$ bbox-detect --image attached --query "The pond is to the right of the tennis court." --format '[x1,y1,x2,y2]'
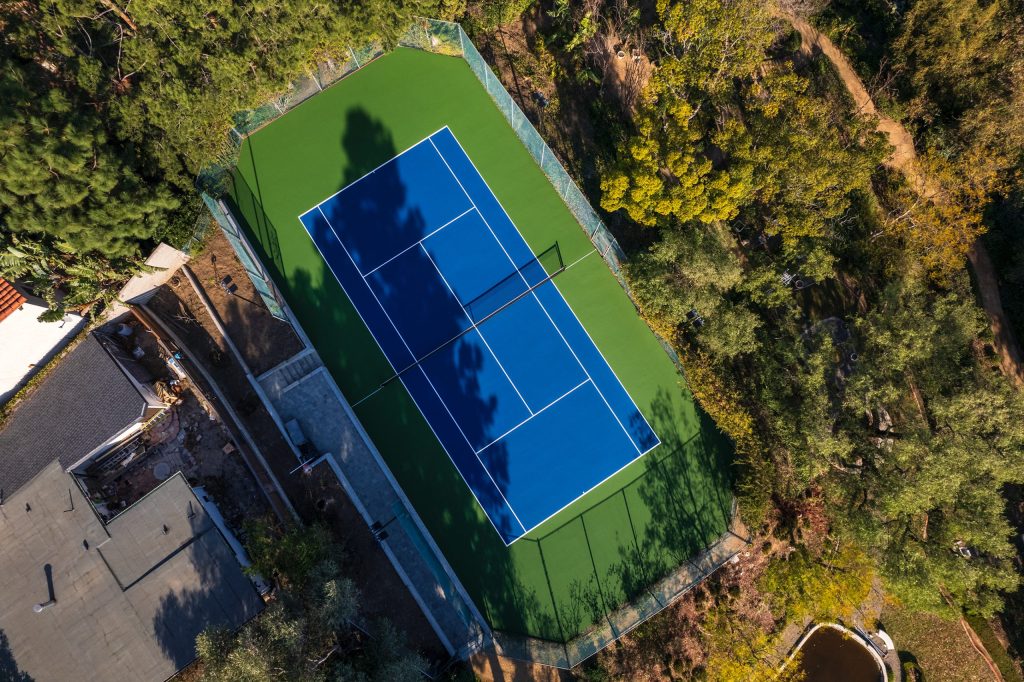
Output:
[776,622,888,682]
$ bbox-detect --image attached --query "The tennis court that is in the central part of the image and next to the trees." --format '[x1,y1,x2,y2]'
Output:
[220,45,739,640]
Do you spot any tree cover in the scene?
Yes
